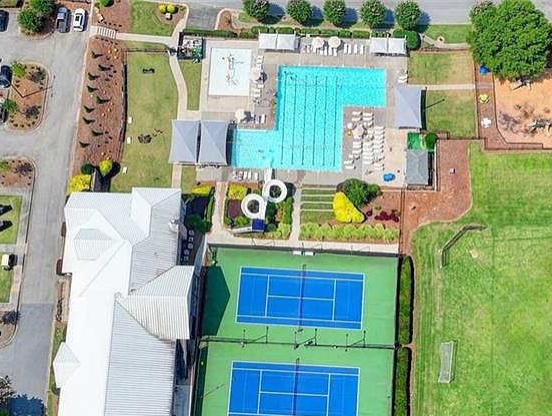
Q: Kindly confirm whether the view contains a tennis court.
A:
Yes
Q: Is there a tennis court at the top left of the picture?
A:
No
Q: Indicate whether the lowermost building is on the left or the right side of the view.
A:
left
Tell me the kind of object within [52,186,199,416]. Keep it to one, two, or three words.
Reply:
building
